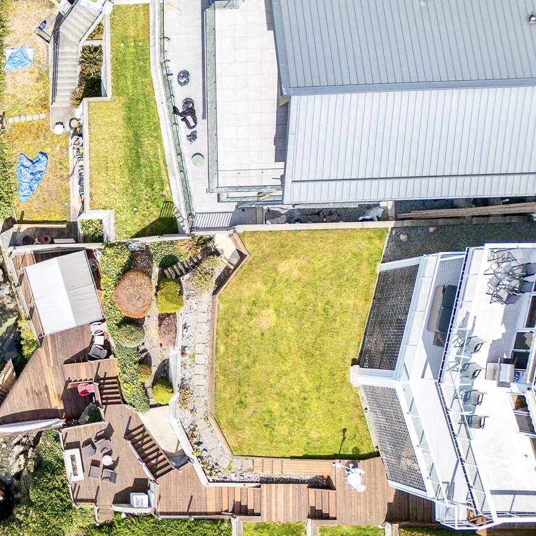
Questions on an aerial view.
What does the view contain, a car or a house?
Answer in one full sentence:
Of the two, only a house appears.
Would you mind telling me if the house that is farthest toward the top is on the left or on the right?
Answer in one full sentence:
The house that is farthest toward the top is on the right side of the image.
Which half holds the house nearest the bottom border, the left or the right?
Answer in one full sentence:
The house nearest the bottom border appears in the right half of the scene.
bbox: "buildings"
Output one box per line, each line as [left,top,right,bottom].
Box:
[354,243,536,535]
[201,0,536,212]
